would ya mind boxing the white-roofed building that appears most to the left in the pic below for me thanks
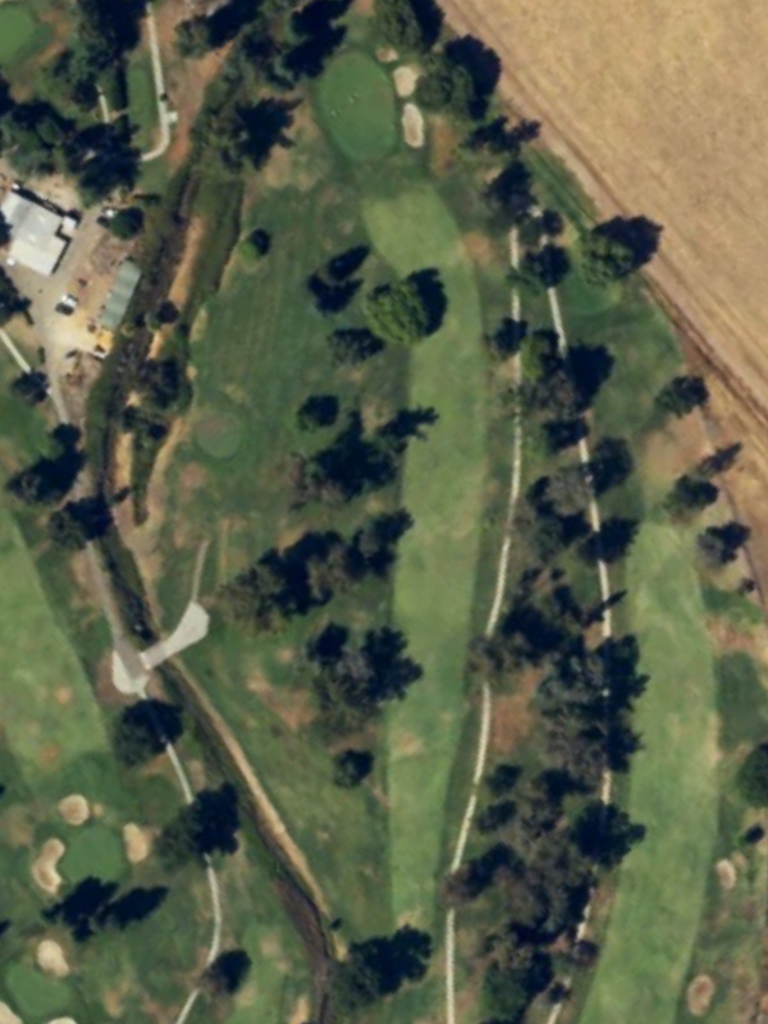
[0,191,66,276]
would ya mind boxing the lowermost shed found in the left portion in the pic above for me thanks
[101,263,140,328]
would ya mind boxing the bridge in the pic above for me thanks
[137,639,175,669]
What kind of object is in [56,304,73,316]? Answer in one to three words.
vehicle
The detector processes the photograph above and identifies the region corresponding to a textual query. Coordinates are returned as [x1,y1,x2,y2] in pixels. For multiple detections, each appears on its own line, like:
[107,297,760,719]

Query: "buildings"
[0,191,66,276]
[60,216,78,235]
[101,263,140,328]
